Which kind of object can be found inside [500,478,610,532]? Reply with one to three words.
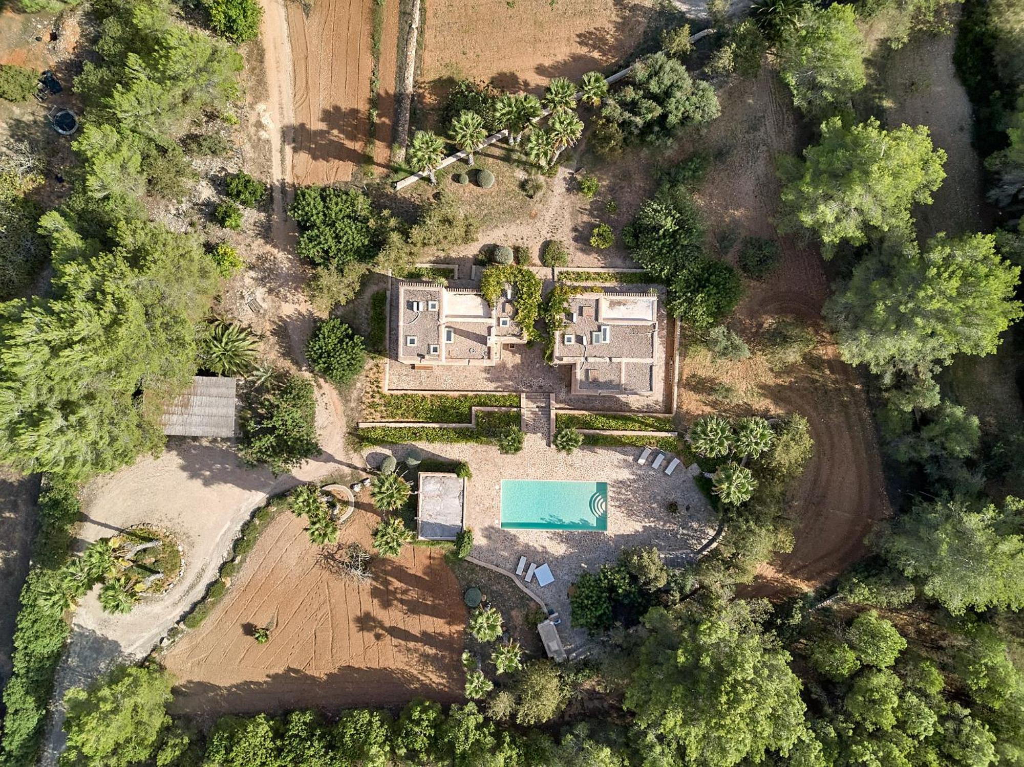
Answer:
swimming pool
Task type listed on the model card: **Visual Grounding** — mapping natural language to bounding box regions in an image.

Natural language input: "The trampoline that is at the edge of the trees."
[49,107,83,136]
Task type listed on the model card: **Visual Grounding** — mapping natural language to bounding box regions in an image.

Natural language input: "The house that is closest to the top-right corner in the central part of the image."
[552,291,661,398]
